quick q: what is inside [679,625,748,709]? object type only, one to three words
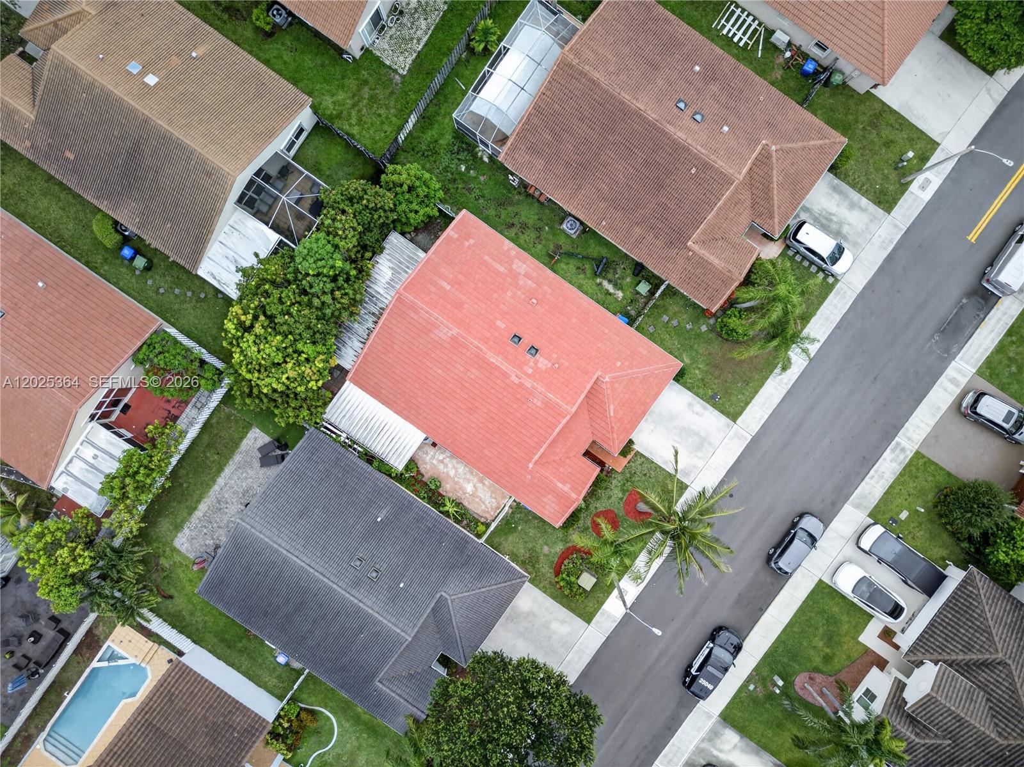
car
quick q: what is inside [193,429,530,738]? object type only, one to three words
house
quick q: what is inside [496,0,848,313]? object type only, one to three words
house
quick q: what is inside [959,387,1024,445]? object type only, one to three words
car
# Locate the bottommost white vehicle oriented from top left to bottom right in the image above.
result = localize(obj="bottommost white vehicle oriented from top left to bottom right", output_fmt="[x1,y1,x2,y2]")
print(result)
[831,561,909,626]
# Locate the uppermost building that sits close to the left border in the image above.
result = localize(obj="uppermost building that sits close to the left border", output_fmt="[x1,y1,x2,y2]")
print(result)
[0,0,316,276]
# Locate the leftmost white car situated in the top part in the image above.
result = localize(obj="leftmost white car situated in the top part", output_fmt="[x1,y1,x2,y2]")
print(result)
[784,217,859,278]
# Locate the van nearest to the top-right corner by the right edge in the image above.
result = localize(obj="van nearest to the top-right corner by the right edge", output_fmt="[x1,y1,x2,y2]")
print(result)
[985,223,1024,297]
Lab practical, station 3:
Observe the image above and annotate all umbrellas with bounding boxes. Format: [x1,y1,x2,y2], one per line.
[1,679,27,697]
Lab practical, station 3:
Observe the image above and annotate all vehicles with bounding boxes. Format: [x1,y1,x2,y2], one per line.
[985,223,1024,297]
[831,561,909,626]
[679,625,748,709]
[784,217,859,278]
[852,520,948,599]
[767,512,829,583]
[959,387,1024,445]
